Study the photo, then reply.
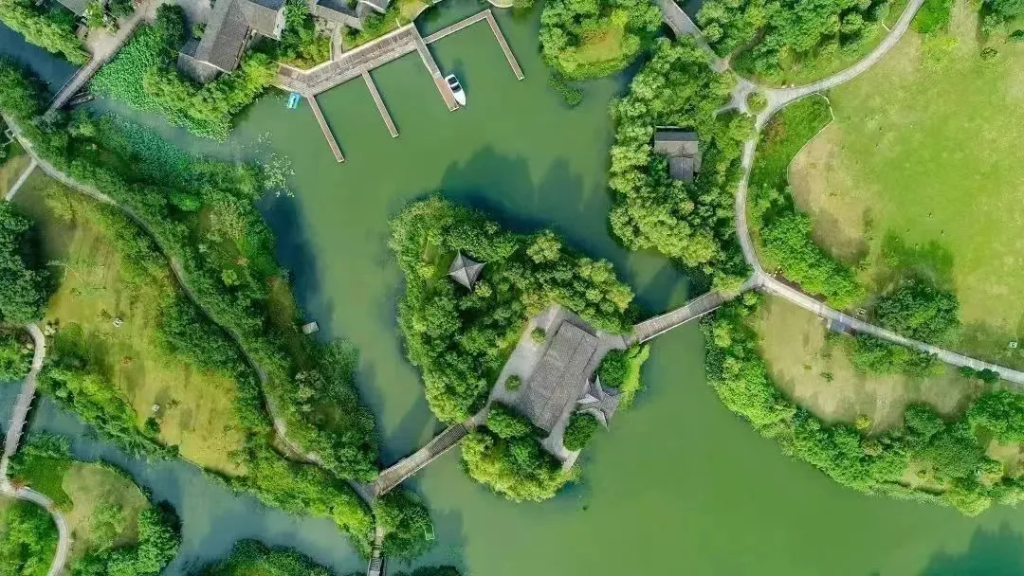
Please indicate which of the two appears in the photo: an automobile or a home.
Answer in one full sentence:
It is a home that can be seen here.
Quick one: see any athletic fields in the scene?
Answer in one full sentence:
No, the frame has no athletic field in it.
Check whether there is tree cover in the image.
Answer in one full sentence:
Yes, some tree cover is visible.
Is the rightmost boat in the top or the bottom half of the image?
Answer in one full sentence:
The top half of the photo is where the rightmost boat is.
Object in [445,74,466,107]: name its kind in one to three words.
boat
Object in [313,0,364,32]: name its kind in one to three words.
house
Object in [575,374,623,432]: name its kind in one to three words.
building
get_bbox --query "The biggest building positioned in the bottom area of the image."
[515,321,598,429]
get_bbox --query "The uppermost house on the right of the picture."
[651,131,700,156]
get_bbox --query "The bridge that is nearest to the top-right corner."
[660,0,697,33]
